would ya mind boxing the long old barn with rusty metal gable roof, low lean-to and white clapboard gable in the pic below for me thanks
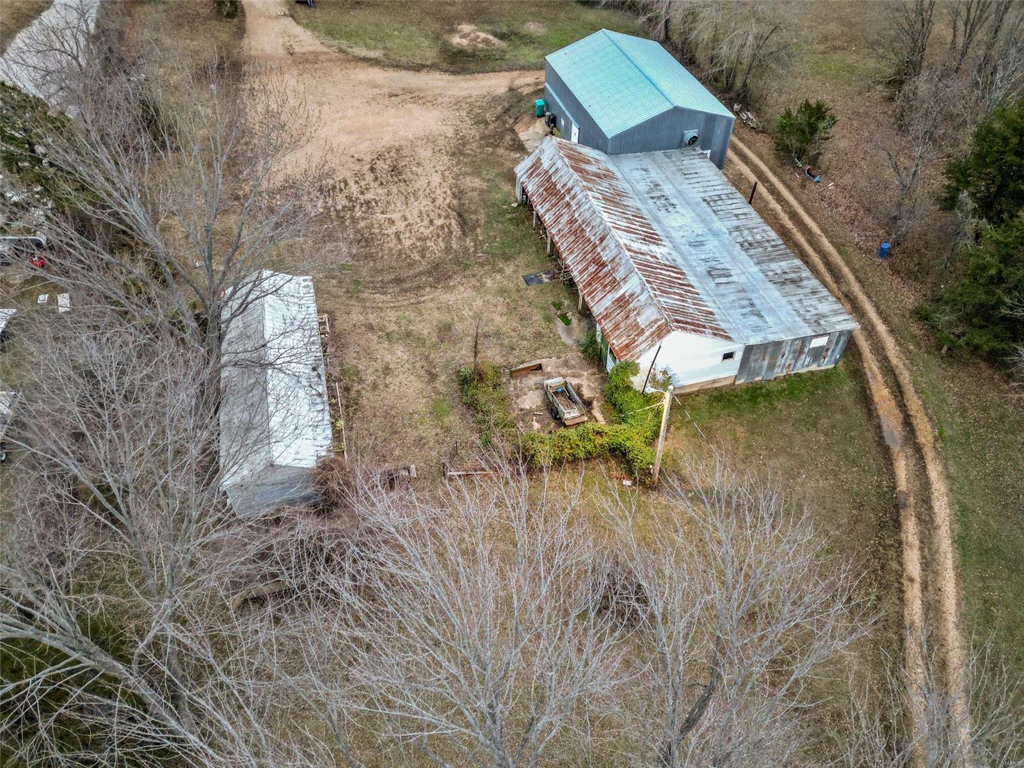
[517,136,860,409]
